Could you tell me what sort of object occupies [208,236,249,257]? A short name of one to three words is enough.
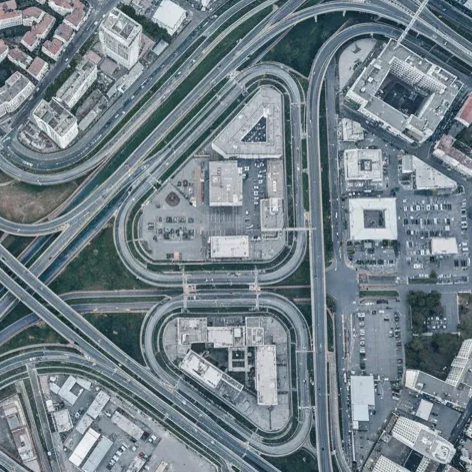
building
